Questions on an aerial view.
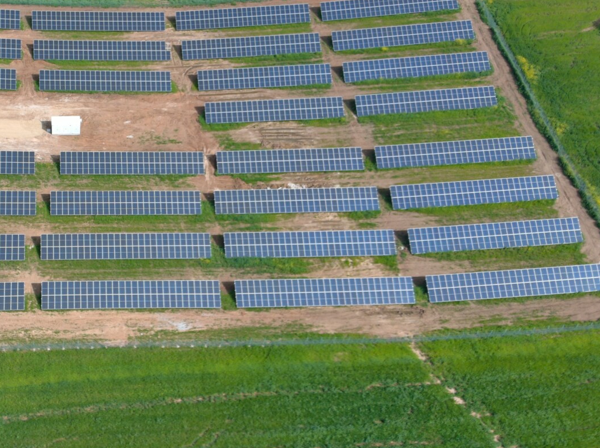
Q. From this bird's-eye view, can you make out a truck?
No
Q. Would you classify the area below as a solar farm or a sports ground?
solar farm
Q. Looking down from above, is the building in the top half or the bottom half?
top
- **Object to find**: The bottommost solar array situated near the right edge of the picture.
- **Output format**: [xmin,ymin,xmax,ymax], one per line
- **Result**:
[425,265,600,301]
